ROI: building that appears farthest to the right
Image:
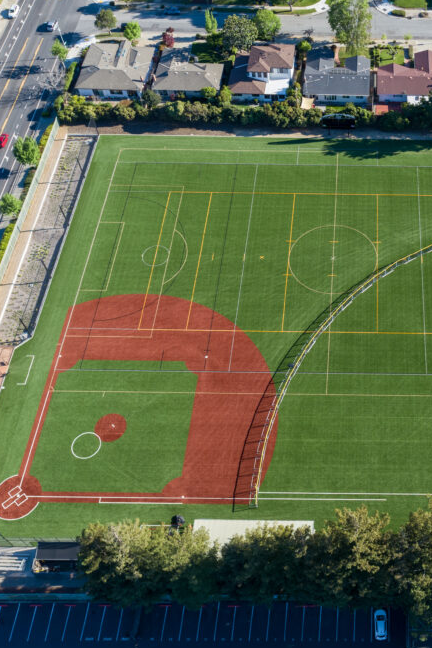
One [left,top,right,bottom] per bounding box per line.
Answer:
[377,47,432,103]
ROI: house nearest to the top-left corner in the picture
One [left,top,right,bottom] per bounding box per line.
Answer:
[75,37,154,97]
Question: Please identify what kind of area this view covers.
sports ground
